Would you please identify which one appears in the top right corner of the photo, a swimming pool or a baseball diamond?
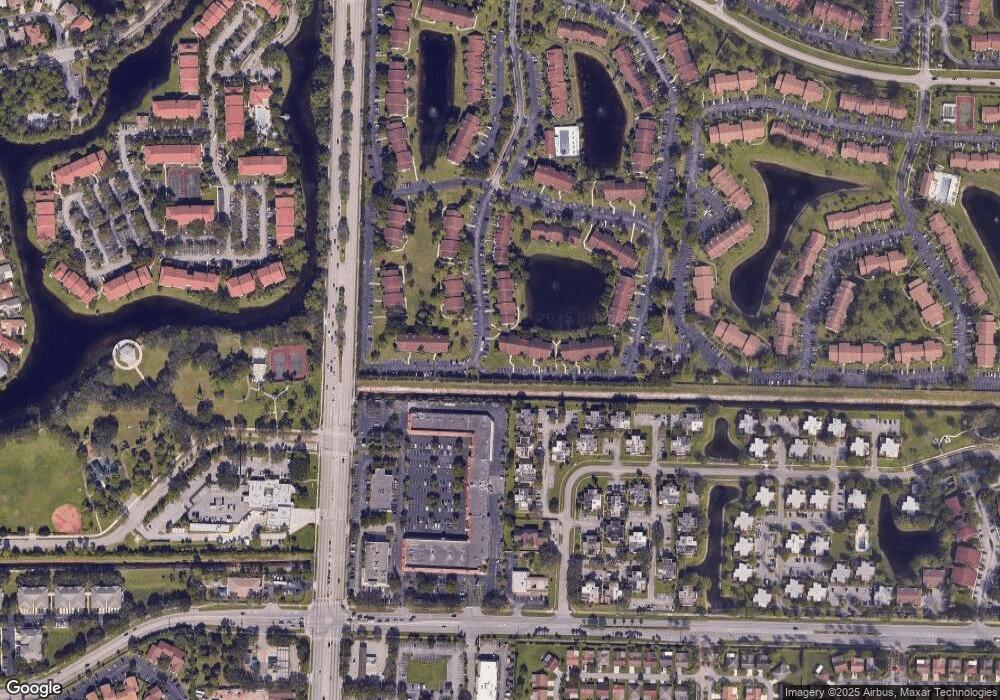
swimming pool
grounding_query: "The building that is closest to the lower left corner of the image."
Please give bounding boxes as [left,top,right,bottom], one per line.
[17,629,43,661]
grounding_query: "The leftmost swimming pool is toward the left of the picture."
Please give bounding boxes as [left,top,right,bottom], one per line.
[251,104,270,136]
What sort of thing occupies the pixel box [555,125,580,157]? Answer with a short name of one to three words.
swimming pool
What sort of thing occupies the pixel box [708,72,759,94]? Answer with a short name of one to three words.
building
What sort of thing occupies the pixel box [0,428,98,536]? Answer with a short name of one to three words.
sports field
